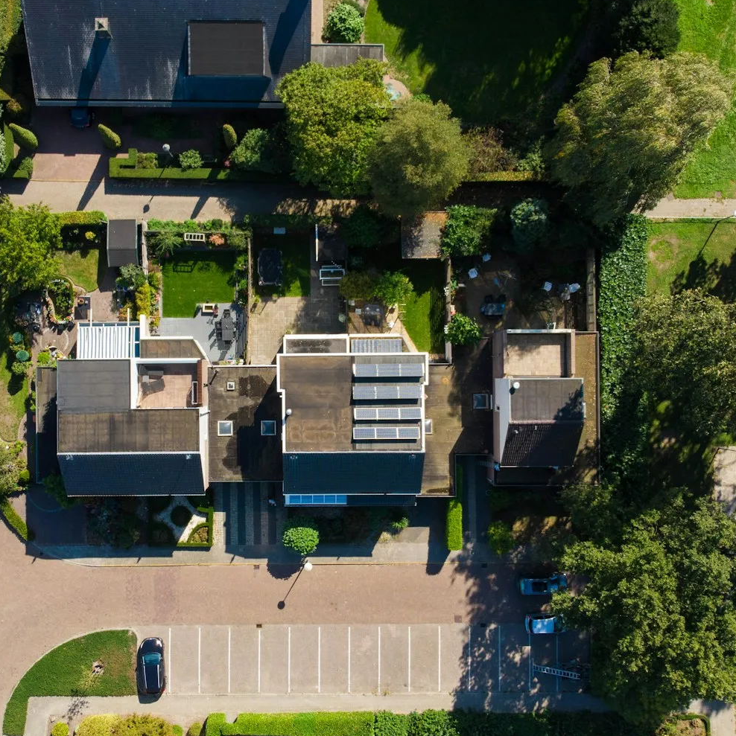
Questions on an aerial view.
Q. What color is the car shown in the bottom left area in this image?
black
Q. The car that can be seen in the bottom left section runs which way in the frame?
vertically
